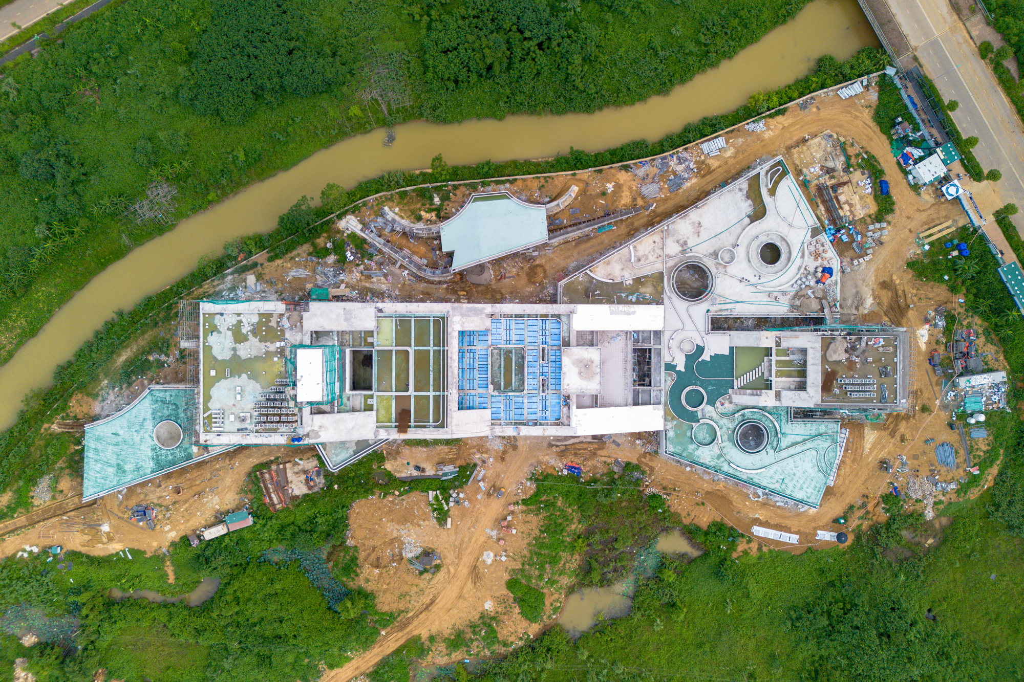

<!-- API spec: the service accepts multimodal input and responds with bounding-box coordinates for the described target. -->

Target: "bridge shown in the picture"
[856,0,922,71]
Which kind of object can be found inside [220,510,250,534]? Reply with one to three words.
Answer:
building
